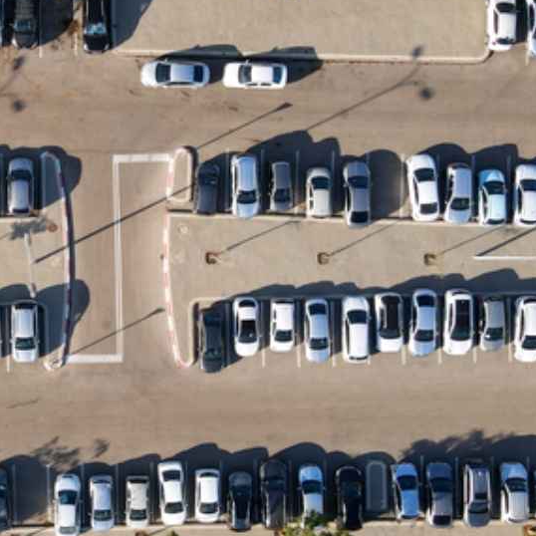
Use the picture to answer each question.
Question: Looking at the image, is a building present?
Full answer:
No, there appears to be no building in this shot.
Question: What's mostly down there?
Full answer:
The bulk of the photo consists of paved ground.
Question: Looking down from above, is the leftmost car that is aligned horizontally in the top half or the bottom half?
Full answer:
The leftmost car that is aligned horizontally is in the top half of the image.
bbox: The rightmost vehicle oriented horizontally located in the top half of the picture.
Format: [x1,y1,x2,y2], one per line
[224,60,287,89]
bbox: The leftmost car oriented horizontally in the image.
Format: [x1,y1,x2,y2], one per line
[141,58,209,89]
